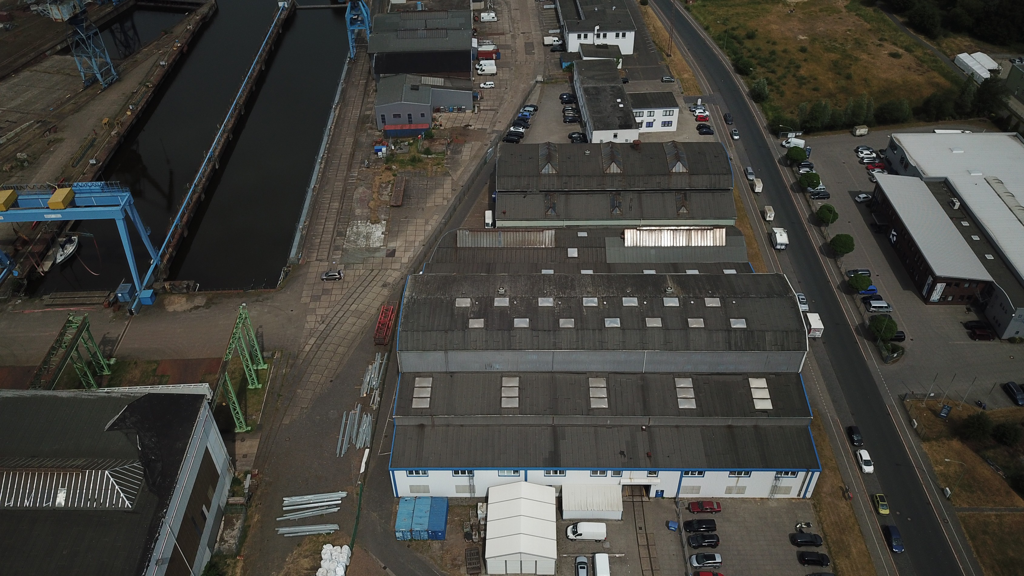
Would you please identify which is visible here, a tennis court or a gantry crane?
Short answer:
gantry crane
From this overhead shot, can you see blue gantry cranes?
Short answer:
Yes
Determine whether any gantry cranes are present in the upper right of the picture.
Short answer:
No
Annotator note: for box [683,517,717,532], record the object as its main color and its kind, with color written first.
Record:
black car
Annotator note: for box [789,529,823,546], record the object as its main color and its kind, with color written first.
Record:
black car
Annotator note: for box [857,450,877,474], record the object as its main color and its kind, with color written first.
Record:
white car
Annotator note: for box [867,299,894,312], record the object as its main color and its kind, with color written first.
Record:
gray vehicle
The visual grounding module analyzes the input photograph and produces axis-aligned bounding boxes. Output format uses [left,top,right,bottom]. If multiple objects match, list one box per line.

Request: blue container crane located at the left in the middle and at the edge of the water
[0,175,163,298]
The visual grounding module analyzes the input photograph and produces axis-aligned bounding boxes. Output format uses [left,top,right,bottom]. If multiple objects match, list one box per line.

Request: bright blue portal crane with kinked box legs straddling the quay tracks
[344,0,383,62]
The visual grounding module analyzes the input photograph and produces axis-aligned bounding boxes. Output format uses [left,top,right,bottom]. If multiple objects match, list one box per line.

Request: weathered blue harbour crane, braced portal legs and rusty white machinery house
[32,0,117,90]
